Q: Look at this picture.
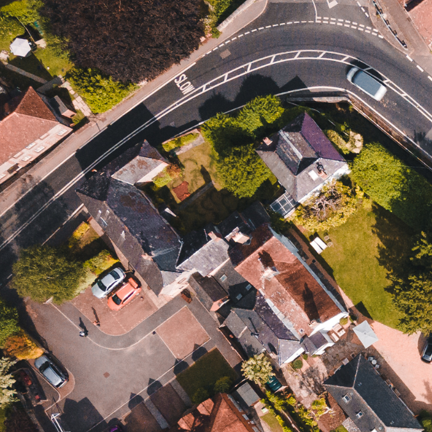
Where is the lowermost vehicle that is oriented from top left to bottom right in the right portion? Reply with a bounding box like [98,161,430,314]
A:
[345,64,388,101]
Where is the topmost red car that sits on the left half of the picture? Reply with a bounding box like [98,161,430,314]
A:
[106,279,144,310]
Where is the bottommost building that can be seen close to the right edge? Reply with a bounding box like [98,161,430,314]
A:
[323,353,424,432]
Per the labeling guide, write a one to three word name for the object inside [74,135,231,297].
house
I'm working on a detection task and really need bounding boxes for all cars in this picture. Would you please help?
[90,264,133,299]
[345,64,388,101]
[106,279,144,310]
[417,331,432,370]
[35,350,72,393]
